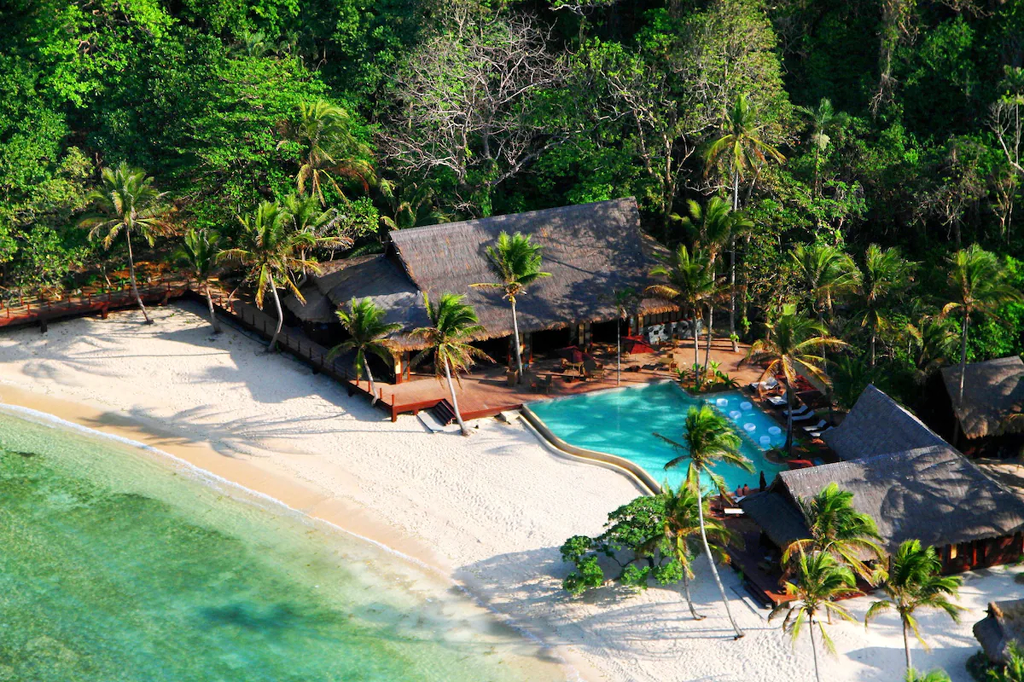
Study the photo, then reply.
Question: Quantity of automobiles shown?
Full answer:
No automobiles are visible.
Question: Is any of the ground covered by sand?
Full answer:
Yes, there is sand in the image.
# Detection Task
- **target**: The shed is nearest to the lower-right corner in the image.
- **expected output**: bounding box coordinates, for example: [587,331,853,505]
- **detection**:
[967,593,1024,664]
